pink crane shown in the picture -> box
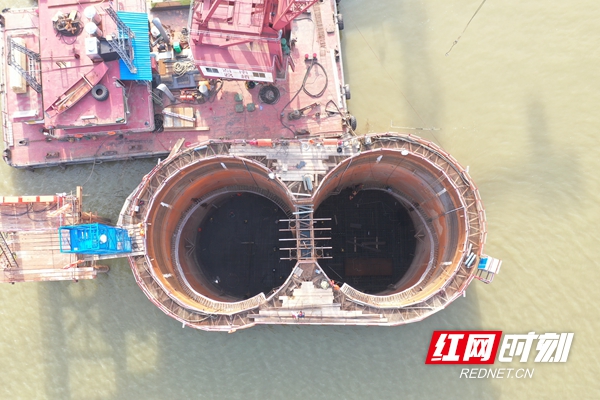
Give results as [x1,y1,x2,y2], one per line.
[188,0,314,85]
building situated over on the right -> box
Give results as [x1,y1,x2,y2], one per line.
[473,257,500,286]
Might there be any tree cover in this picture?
No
